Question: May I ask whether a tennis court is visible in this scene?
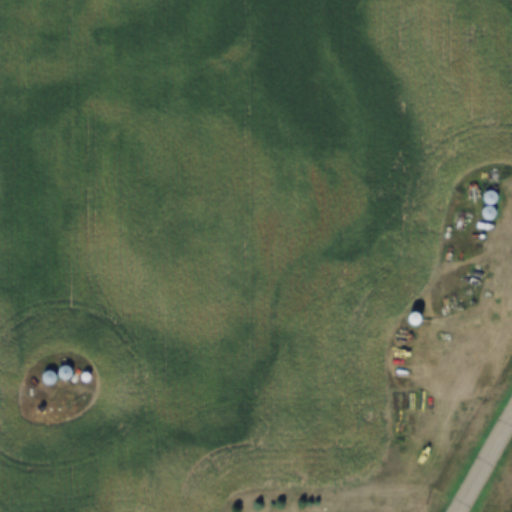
No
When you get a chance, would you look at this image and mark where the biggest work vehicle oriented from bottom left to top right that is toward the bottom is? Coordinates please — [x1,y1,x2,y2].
[418,448,432,464]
